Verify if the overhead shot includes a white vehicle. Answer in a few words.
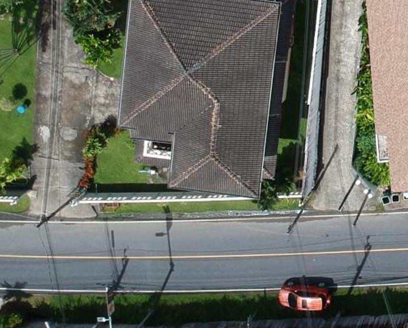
No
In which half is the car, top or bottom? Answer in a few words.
bottom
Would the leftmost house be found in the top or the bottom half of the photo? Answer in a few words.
top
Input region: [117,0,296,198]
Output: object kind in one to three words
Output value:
house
